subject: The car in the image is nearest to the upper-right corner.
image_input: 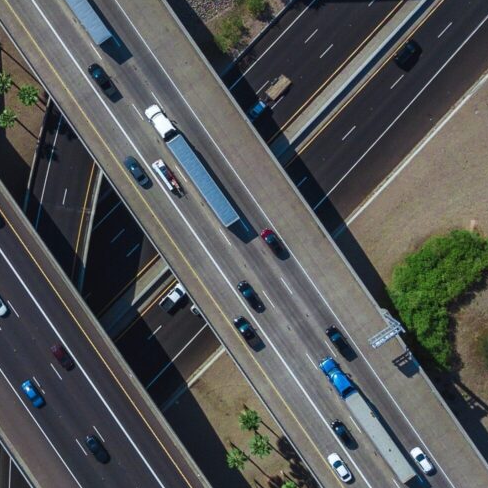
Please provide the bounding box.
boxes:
[394,41,420,68]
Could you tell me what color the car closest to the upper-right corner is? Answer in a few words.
black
